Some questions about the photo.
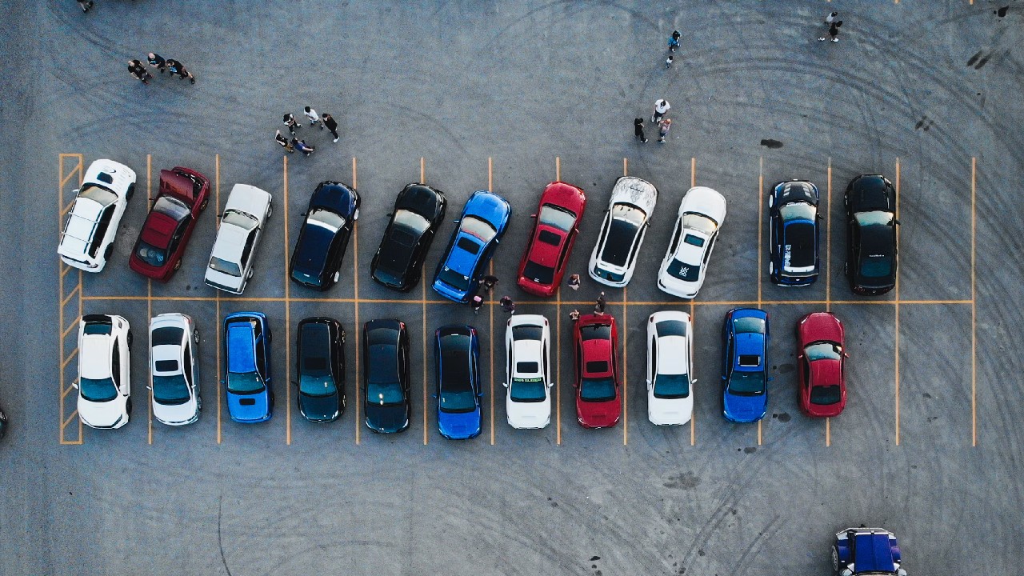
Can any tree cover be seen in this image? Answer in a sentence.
No, the scene doesn't show any tree cover.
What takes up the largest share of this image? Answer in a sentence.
The largest share of the image is taken up by paved ground.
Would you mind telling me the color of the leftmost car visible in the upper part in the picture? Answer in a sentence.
The leftmost car visible in the upper part is white.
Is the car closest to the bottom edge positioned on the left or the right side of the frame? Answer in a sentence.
The car closest to the bottom edge sits on the right side.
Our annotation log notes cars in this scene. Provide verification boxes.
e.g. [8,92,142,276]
[657,186,727,300]
[643,310,699,427]
[433,190,510,305]
[58,159,136,274]
[144,312,204,427]
[291,315,347,425]
[794,311,850,419]
[430,324,485,441]
[131,168,210,283]
[218,312,274,423]
[501,313,556,431]
[842,174,903,297]
[767,177,825,291]
[569,313,625,430]
[357,318,413,434]
[204,182,274,299]
[831,522,905,576]
[370,185,441,293]
[72,315,133,430]
[517,181,584,297]
[288,183,360,290]
[590,177,657,289]
[720,307,776,424]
